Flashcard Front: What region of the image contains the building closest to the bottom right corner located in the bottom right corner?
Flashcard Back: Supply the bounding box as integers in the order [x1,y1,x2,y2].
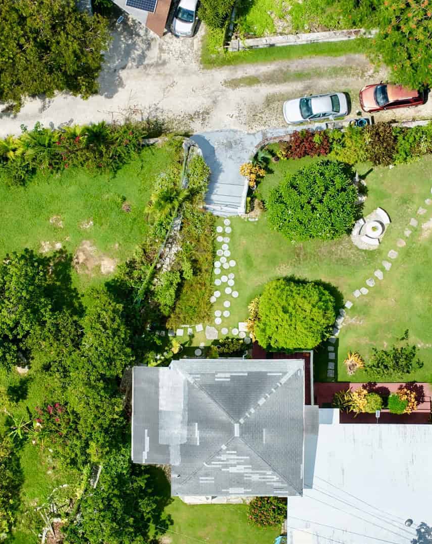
[286,408,432,544]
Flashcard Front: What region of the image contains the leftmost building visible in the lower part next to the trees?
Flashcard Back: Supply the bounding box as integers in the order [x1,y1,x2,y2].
[132,358,320,496]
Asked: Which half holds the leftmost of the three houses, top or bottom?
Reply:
top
